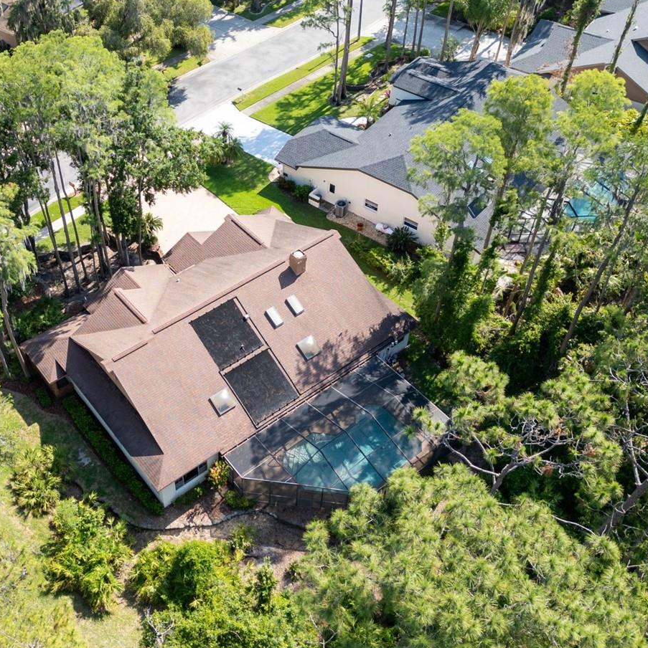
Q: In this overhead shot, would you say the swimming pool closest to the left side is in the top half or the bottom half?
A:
bottom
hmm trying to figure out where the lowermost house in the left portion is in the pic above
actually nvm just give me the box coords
[21,205,416,507]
